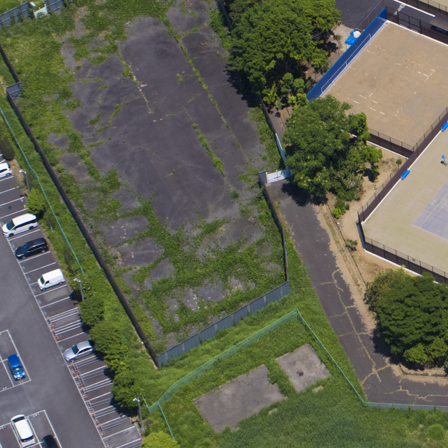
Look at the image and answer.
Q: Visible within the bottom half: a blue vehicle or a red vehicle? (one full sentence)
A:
What appears within the bottom half is a blue vehicle.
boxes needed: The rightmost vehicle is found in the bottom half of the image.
[63,340,97,362]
